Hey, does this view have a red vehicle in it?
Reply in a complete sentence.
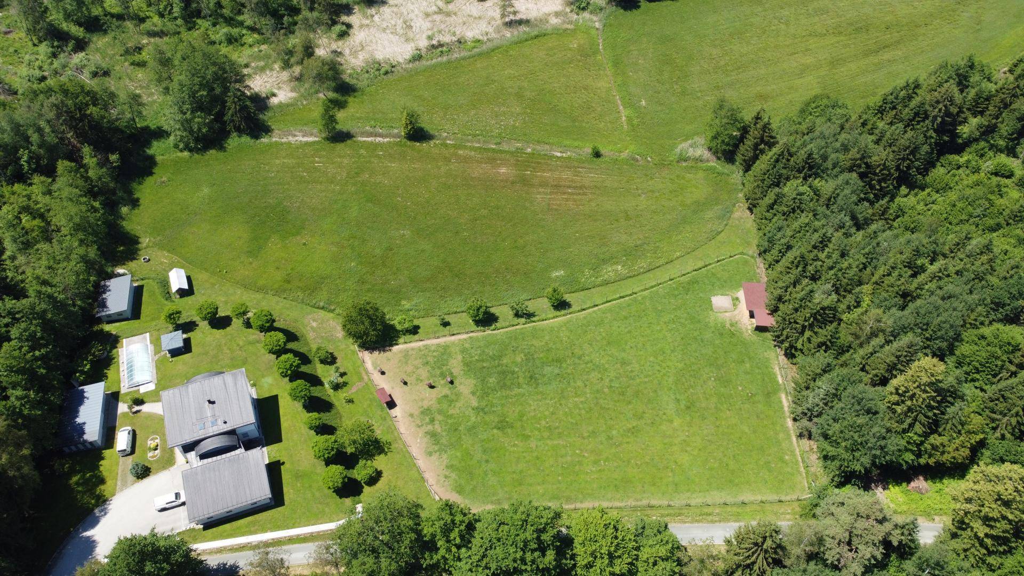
No, the scene contains no red vehicle.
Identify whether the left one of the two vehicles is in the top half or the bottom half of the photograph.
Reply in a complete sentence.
It is in the bottom half that the left one of the two vehicles appears.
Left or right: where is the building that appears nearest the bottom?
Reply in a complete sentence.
The building that appears nearest the bottom is on the left side of the image.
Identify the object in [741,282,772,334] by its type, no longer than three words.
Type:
barn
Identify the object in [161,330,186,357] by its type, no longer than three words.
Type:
building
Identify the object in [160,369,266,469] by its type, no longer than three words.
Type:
house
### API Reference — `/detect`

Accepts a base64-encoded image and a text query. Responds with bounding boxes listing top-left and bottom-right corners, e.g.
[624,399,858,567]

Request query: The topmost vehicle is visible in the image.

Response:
[114,428,134,457]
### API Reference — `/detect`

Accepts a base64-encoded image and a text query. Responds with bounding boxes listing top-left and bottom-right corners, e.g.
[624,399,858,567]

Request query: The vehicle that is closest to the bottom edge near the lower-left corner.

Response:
[152,490,185,511]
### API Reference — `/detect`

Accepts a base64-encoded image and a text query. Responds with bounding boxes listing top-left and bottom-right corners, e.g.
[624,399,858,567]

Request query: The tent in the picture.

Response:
[170,268,191,297]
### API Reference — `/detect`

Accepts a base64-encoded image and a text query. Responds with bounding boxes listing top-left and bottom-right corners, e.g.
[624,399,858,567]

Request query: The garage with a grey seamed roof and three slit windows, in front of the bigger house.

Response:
[181,447,273,525]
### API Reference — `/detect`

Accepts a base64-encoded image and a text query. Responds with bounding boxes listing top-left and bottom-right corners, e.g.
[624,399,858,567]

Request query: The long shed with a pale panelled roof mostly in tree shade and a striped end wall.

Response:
[56,382,109,455]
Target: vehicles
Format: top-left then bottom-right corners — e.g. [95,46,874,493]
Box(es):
[152,490,185,511]
[114,428,134,457]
